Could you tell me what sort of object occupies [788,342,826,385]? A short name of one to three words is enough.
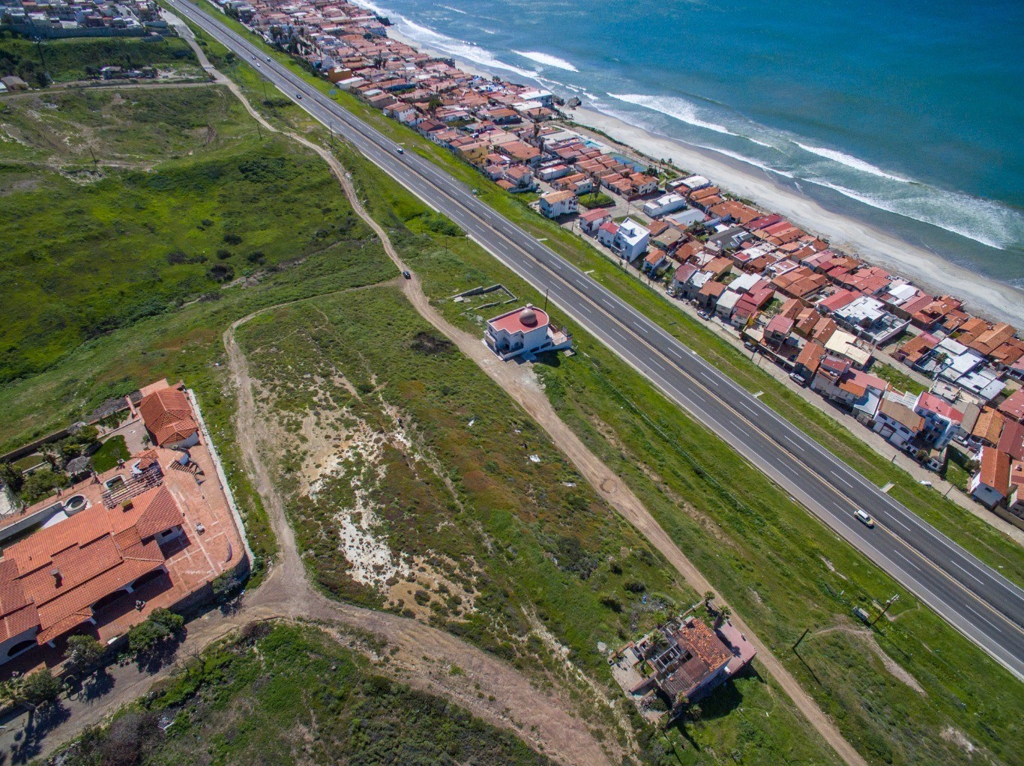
house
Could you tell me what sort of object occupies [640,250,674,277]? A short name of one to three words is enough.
house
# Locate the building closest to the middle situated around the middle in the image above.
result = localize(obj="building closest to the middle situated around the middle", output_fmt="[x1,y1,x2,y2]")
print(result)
[484,302,572,358]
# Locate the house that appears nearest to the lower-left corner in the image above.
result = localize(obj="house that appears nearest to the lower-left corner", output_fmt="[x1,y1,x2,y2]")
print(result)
[0,484,184,660]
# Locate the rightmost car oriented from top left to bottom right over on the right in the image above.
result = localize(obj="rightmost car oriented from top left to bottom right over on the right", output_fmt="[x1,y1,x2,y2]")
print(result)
[916,474,939,490]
